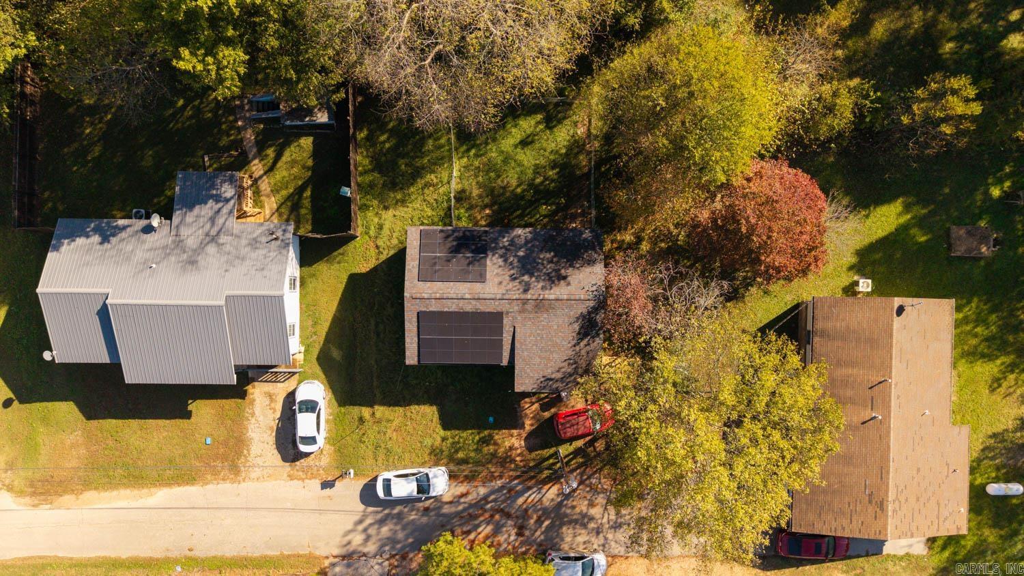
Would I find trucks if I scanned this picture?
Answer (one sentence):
No, the scene contains no truck.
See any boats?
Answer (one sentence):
No, I can't see a single boat in this photo.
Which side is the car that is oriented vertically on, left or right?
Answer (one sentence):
The car that is oriented vertically sits on the left side.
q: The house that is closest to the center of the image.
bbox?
[404,226,604,393]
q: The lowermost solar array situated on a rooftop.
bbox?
[418,312,503,364]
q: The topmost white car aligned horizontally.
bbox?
[376,465,450,499]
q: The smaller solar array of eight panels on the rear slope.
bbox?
[418,228,487,280]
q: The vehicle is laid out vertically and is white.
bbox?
[294,378,328,453]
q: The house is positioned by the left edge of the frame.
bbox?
[37,171,310,384]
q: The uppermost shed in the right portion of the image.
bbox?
[943,226,994,257]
